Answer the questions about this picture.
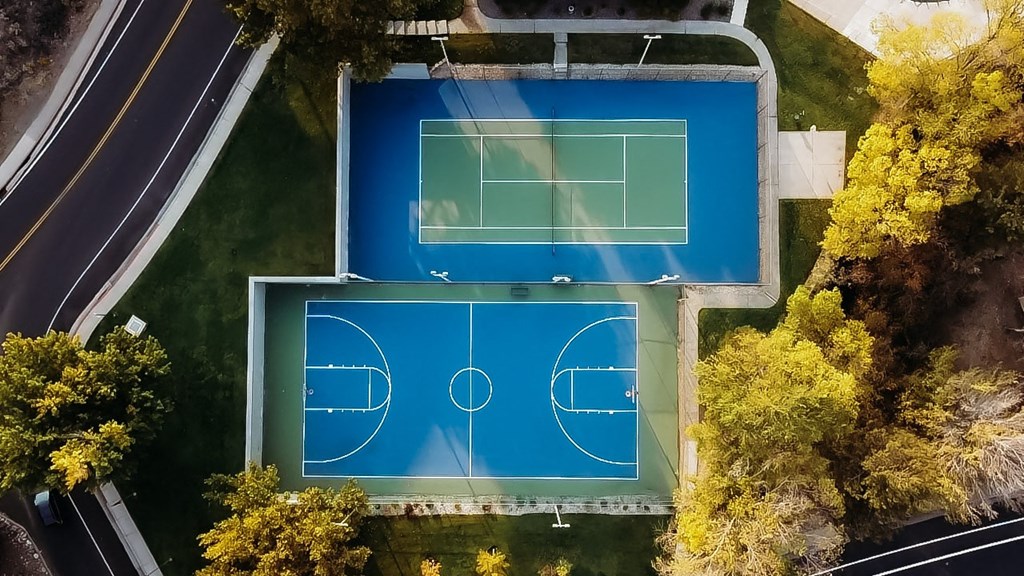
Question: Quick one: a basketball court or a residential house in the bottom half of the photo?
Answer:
basketball court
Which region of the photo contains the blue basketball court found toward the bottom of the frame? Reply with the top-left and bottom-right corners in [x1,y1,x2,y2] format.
[263,282,679,497]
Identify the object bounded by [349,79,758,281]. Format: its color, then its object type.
blue tennis court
